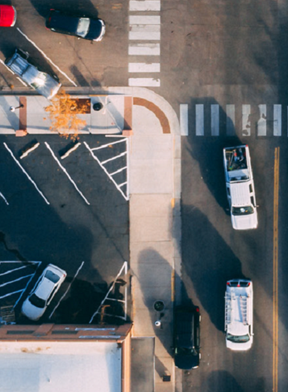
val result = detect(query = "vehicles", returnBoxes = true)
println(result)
[173,304,201,370]
[222,144,259,231]
[223,278,254,352]
[44,8,105,43]
[0,2,18,27]
[22,263,67,323]
[1,46,63,101]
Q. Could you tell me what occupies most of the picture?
paved ground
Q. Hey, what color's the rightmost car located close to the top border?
black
